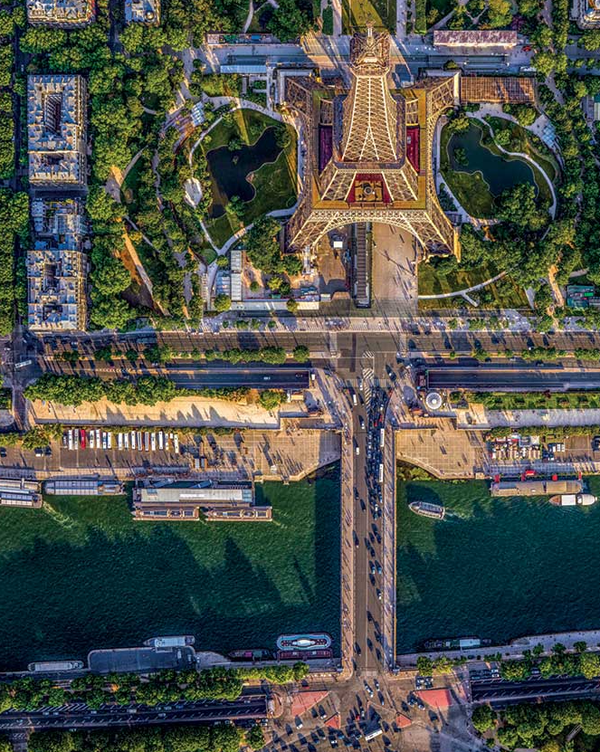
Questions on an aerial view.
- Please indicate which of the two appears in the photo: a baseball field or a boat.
boat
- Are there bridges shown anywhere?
Yes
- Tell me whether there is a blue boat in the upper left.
No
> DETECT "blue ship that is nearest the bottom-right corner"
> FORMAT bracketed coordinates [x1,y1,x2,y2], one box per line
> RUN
[425,637,493,649]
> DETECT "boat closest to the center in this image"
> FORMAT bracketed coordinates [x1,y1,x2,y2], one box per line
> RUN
[206,508,272,520]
